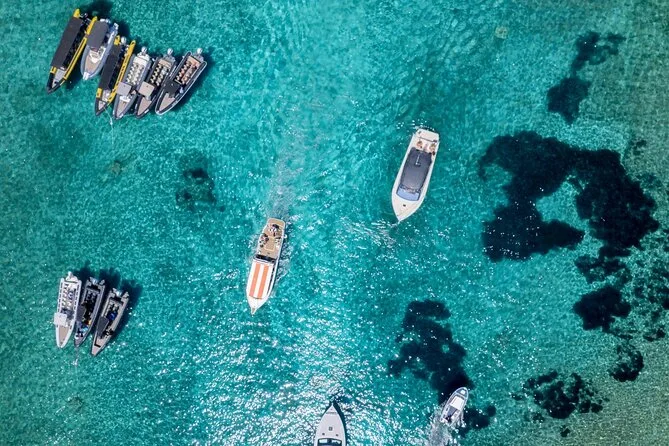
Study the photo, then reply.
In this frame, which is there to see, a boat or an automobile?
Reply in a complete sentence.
The one in the frame is a boat.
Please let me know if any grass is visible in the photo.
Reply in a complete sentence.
No, grass can't be seen anywhere here.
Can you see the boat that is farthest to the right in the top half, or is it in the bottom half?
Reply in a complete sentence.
The boat that is farthest to the right sits in the bottom half of the picture.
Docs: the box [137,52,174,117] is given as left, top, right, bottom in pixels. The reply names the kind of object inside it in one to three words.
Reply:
boat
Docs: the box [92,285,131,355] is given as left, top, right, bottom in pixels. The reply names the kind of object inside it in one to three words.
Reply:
boat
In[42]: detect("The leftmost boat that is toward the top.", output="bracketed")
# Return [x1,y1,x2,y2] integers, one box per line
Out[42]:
[48,8,96,92]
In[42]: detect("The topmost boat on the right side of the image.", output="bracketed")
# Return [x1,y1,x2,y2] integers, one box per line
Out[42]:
[393,128,438,221]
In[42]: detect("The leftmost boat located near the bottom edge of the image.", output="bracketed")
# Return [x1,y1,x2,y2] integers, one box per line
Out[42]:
[315,402,348,446]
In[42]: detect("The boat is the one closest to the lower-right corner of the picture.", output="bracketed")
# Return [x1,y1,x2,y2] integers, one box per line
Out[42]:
[440,387,468,426]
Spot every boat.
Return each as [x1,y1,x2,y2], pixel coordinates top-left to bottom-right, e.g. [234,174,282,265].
[315,402,348,446]
[393,128,438,221]
[92,285,131,355]
[75,275,106,347]
[95,33,134,115]
[54,272,83,347]
[247,216,286,315]
[440,387,468,426]
[137,52,174,117]
[48,8,96,92]
[113,50,150,117]
[83,15,118,80]
[156,51,206,114]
